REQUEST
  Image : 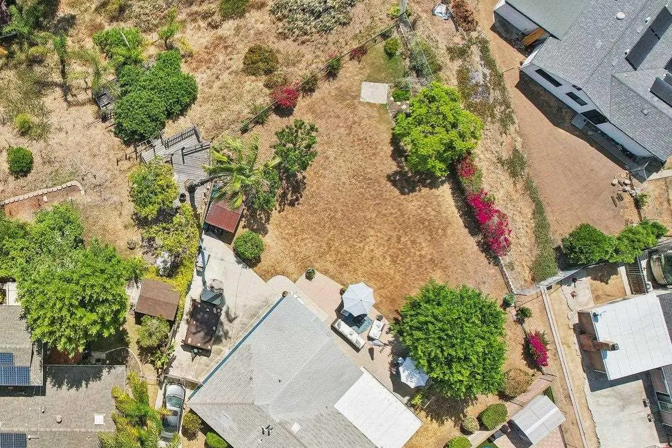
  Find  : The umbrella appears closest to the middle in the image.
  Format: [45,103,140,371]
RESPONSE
[339,282,375,318]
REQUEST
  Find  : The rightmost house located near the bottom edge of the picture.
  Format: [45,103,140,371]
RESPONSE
[572,289,672,448]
